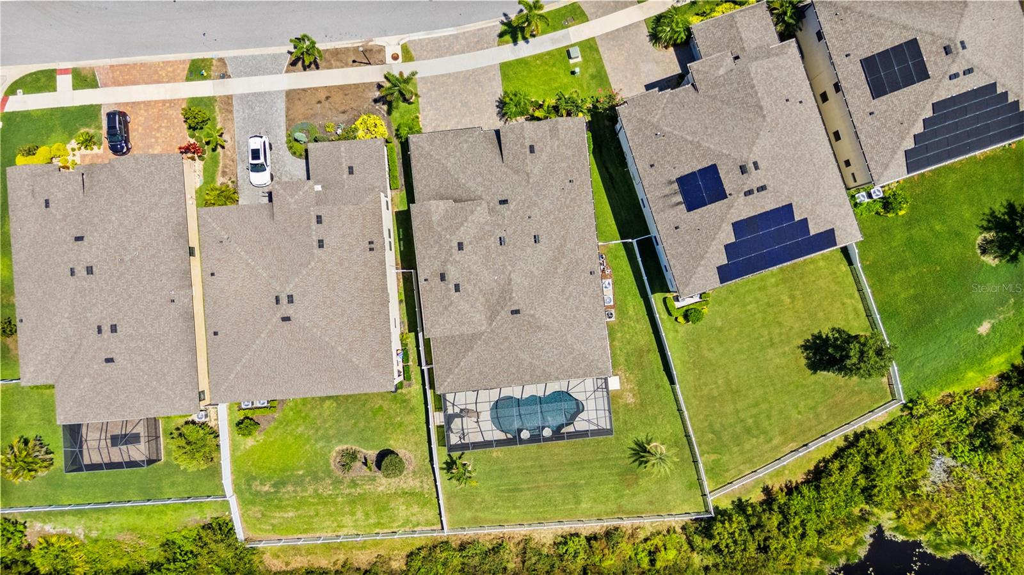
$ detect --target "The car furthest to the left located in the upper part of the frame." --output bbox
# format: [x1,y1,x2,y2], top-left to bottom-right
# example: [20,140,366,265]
[102,110,132,159]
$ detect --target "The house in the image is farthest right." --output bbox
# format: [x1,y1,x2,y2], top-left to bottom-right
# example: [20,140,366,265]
[788,0,1024,191]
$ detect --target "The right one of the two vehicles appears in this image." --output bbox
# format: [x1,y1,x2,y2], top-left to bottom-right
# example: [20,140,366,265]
[245,134,272,188]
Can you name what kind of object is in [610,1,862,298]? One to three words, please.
house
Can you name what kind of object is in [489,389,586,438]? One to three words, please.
swimming pool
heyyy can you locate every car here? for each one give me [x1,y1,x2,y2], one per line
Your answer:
[102,110,132,159]
[245,134,272,188]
